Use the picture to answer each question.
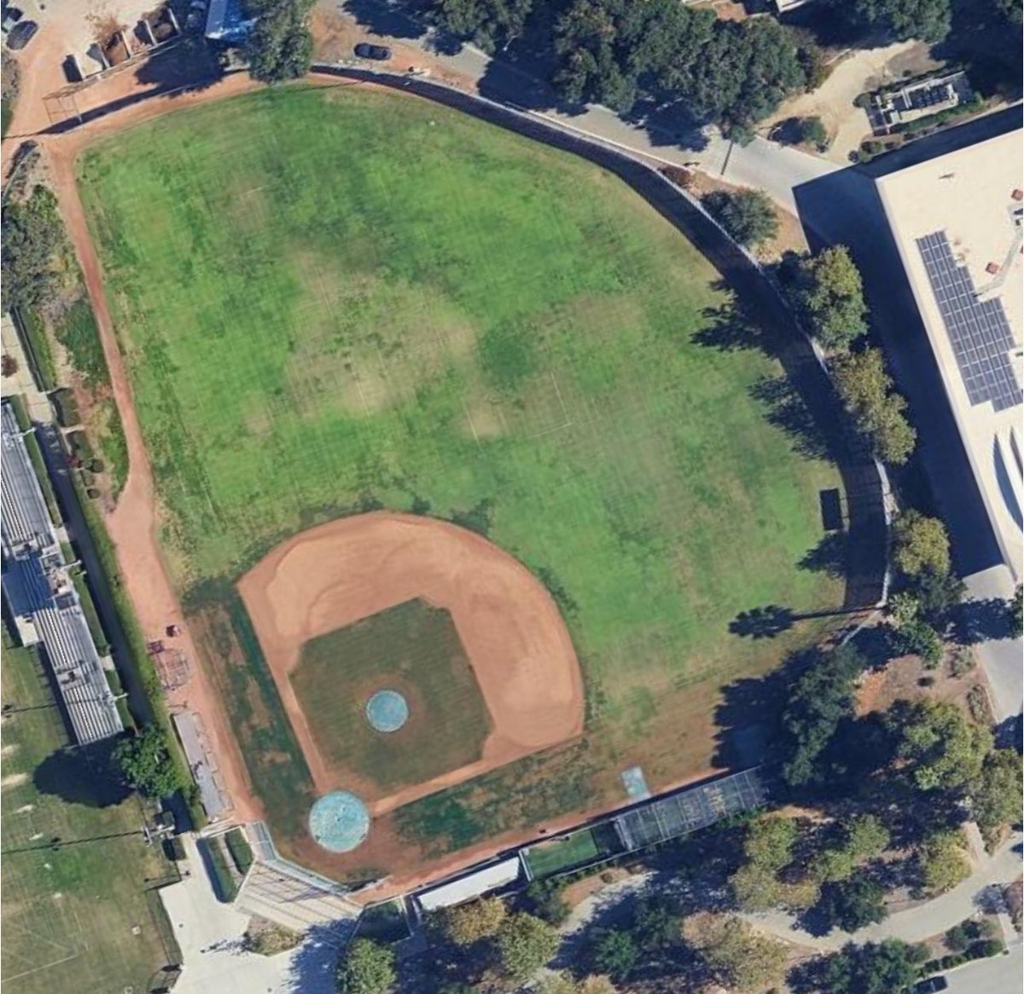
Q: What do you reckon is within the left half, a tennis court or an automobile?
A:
automobile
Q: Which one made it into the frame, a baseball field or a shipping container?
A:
baseball field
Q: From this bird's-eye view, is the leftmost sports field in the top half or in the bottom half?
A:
bottom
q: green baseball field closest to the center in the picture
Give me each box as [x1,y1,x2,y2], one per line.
[43,67,888,906]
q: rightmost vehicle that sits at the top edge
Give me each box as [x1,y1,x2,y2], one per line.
[356,42,391,59]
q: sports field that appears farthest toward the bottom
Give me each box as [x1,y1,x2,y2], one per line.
[0,591,181,994]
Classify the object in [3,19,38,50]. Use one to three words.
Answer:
car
